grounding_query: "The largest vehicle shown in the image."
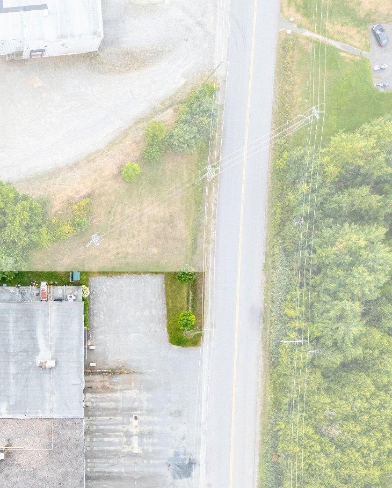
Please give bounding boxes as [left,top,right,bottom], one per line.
[370,24,388,47]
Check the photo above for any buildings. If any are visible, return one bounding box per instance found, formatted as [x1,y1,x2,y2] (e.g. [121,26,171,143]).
[0,300,86,488]
[0,0,104,55]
